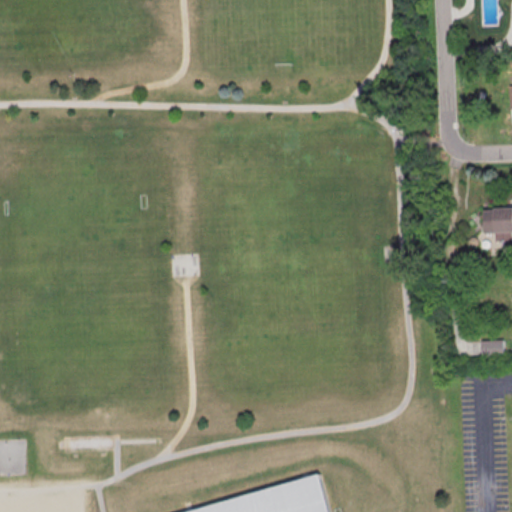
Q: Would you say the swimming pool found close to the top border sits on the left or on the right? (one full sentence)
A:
The swimming pool found close to the top border sits on the right side.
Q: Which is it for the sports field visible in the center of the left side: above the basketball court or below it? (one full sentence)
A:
The sports field visible in the center of the left side is above the basketball court.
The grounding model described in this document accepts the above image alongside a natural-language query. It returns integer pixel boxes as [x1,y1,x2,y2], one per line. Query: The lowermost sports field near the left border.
[2,137,148,272]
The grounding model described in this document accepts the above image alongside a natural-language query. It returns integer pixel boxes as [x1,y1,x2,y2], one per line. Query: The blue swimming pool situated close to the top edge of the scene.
[482,0,504,27]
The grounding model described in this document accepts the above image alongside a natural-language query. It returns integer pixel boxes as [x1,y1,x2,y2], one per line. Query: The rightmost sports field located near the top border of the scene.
[204,0,378,68]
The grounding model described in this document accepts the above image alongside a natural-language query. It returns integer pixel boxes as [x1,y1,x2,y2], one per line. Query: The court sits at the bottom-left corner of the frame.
[0,439,27,476]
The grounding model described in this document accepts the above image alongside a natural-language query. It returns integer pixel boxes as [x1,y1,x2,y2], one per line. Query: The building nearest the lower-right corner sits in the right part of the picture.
[482,340,506,354]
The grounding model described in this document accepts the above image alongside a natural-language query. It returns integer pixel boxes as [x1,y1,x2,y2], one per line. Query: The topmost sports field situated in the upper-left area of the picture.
[0,0,140,62]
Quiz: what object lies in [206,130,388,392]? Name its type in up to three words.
sports field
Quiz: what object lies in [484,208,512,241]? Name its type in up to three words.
house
